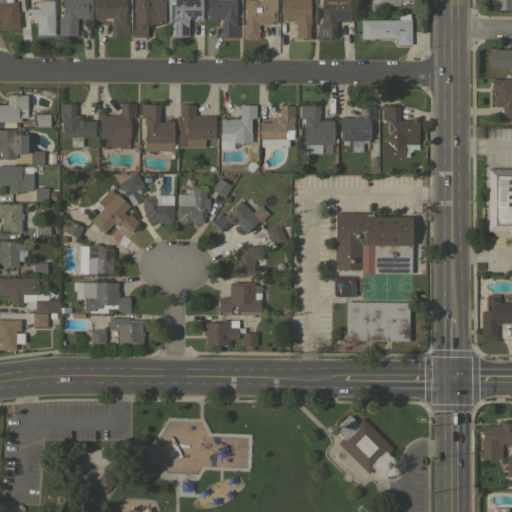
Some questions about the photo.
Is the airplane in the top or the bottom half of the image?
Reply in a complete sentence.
The airplane is in the bottom half of the image.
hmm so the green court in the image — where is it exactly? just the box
[362,274,412,300]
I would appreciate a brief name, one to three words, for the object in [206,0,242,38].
house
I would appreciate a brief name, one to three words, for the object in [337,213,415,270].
building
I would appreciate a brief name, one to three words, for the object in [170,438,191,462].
airplane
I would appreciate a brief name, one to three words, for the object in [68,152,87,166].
swimming pool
